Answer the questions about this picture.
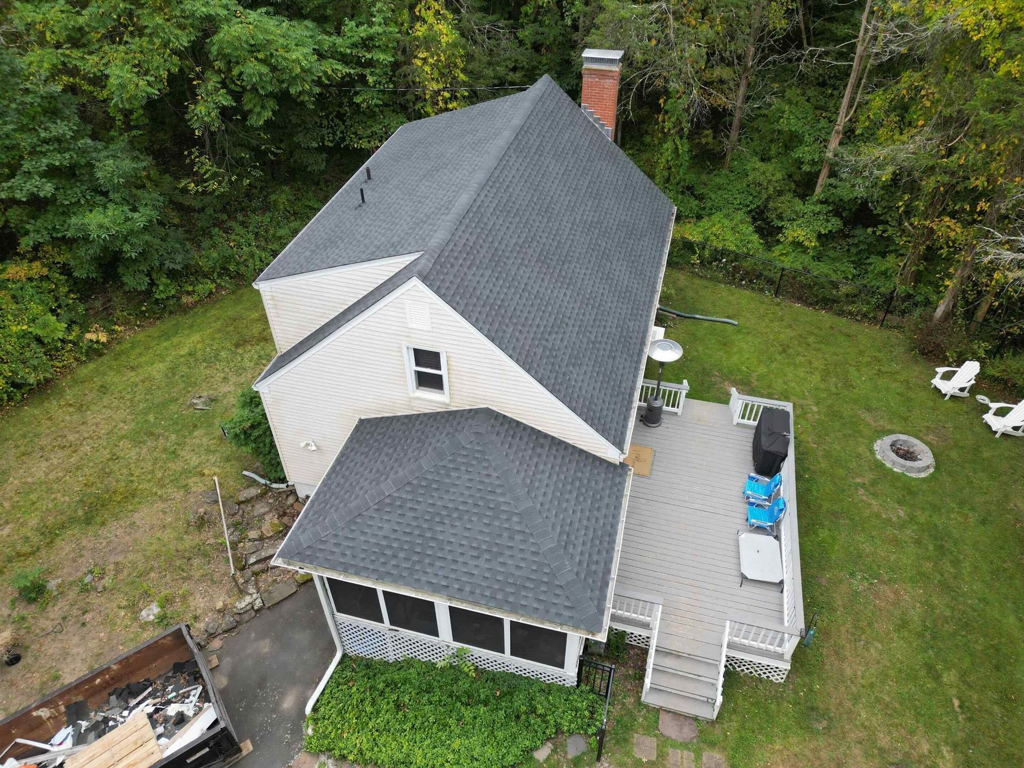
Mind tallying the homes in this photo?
one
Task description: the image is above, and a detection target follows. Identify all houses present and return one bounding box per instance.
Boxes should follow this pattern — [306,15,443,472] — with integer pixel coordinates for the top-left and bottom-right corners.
[251,44,677,720]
